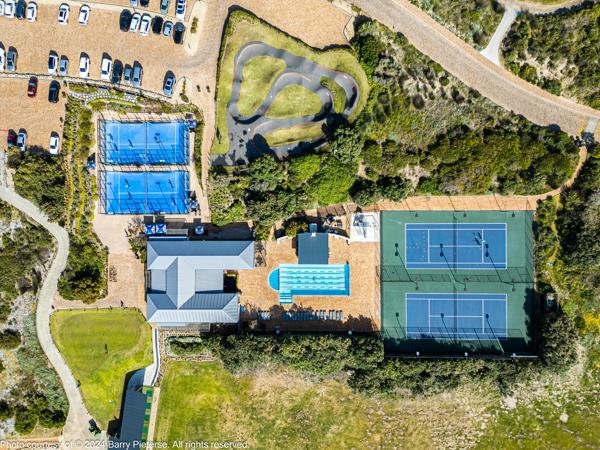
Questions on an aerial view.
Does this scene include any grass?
Yes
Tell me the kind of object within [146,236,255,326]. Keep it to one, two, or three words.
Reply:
building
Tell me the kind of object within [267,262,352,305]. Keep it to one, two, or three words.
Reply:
swimming pool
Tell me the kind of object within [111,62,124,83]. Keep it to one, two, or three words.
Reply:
vehicle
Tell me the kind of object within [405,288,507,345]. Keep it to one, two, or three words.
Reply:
tennis court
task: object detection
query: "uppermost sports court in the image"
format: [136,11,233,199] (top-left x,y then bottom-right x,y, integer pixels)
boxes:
[99,118,189,165]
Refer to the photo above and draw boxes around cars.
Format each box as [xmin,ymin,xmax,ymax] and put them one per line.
[131,67,142,87]
[28,79,39,97]
[48,134,60,154]
[0,49,8,70]
[163,20,173,38]
[139,0,149,9]
[79,58,90,79]
[173,22,184,45]
[154,17,163,35]
[4,0,16,21]
[111,62,124,83]
[6,131,18,149]
[101,59,112,80]
[6,52,18,72]
[141,13,152,36]
[163,75,175,96]
[16,131,28,151]
[159,0,171,15]
[79,5,90,26]
[15,0,28,21]
[47,56,59,75]
[131,14,142,32]
[49,82,61,103]
[59,5,71,25]
[122,66,134,84]
[129,0,138,10]
[27,2,39,22]
[58,59,69,77]
[120,11,132,32]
